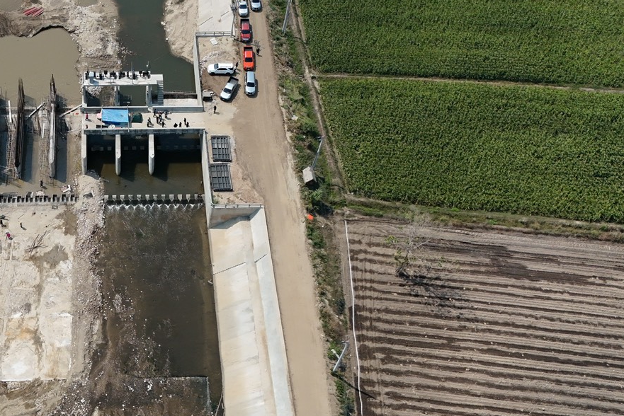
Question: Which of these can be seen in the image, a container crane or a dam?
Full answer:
The one in the frame is a dam.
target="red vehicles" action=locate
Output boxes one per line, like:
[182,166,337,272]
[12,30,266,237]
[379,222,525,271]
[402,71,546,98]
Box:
[239,16,252,41]
[242,45,256,68]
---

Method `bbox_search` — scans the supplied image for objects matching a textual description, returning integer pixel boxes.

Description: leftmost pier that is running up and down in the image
[12,75,27,179]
